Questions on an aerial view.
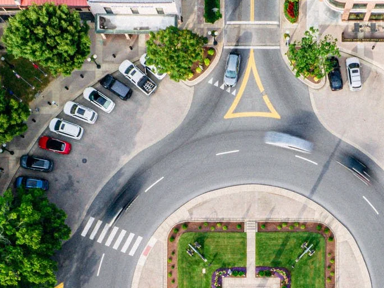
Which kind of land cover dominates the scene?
paved ground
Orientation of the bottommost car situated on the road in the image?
on a diagonal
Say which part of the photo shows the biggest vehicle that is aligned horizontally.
right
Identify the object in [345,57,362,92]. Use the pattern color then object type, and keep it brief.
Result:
white car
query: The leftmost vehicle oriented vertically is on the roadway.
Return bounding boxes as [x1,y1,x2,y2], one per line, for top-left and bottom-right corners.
[223,50,240,87]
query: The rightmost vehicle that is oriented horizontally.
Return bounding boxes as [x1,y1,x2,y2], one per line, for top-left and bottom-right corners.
[266,130,312,155]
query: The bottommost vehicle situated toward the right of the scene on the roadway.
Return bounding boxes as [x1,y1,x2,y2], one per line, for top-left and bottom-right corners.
[339,154,374,184]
